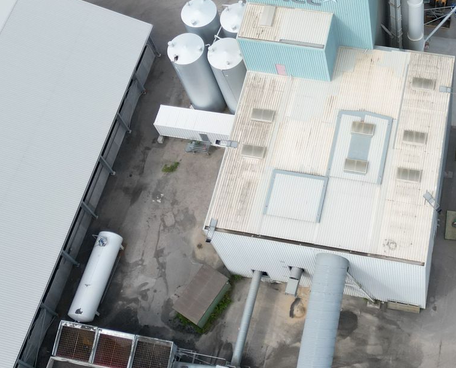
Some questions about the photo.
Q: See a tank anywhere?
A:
Yes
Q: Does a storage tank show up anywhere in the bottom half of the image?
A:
Yes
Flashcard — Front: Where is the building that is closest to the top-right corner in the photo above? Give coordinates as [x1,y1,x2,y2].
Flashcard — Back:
[202,0,456,319]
